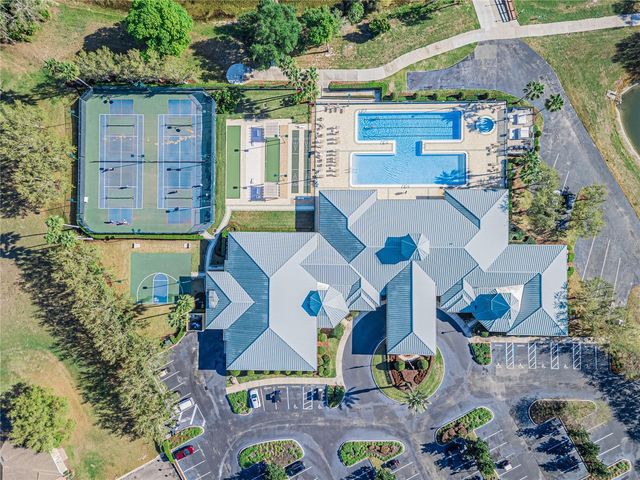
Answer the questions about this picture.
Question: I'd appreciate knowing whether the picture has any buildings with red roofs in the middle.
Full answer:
No, I see no building with a red roof in the middle.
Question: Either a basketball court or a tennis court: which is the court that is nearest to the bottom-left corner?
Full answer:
The court that is nearest to the bottom-left corner in the image is a basketball court.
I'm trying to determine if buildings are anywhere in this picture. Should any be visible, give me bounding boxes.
[205,189,568,371]
[0,438,75,480]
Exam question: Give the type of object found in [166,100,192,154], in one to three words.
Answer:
sports court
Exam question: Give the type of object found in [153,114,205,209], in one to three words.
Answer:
tennis court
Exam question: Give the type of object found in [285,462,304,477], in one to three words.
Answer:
car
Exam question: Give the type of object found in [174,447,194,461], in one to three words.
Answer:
car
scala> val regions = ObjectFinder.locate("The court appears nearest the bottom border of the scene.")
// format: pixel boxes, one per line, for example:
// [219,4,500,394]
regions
[131,253,191,303]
